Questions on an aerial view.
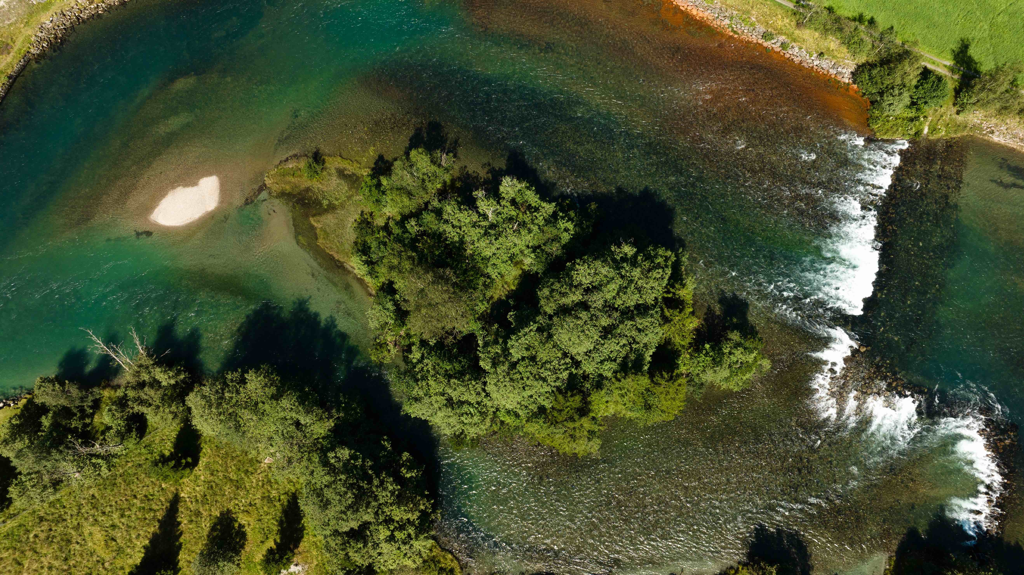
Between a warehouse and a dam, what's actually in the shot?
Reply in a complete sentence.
It is a dam that can be seen here.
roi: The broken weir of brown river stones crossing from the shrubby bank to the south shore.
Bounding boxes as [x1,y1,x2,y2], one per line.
[831,136,1020,553]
